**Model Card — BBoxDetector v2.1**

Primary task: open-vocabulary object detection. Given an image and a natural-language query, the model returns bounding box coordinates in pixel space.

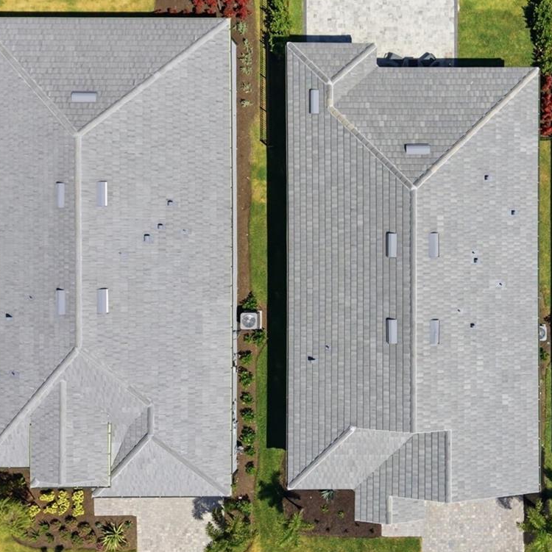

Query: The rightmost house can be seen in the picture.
[284,40,542,527]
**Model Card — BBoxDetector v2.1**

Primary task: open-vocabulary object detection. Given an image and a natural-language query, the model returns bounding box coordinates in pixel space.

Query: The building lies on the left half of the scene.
[0,15,238,499]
